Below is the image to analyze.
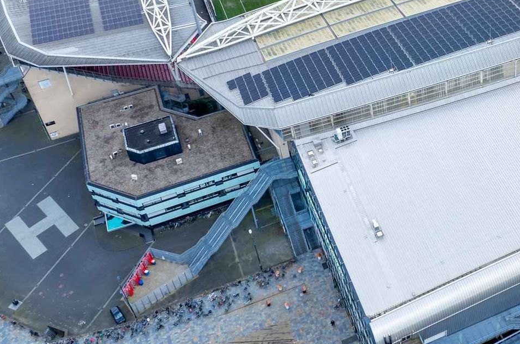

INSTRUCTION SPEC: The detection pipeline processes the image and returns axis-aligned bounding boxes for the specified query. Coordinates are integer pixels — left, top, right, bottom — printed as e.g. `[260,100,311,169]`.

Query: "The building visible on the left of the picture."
[77,85,261,228]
